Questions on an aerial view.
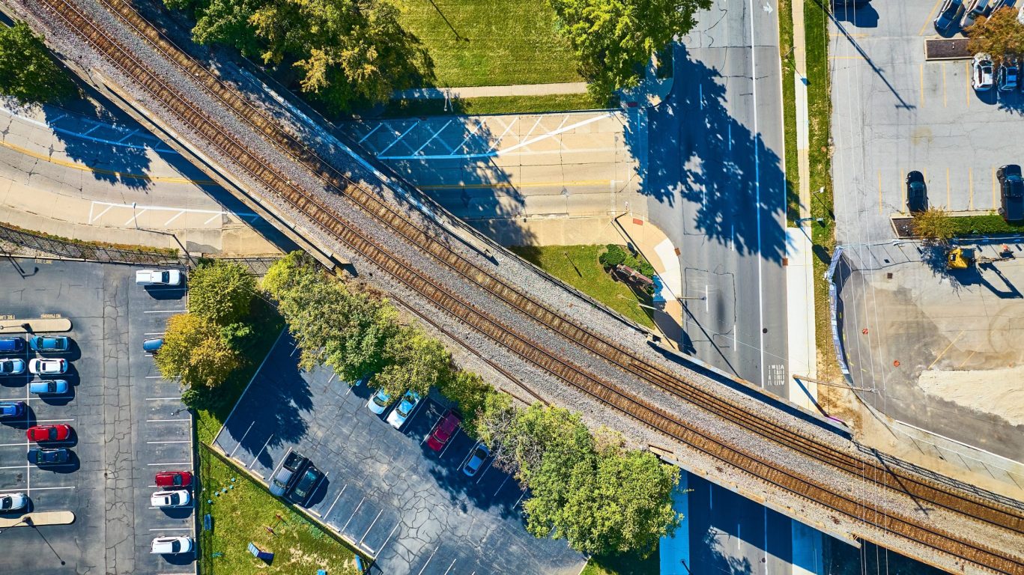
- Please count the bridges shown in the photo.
2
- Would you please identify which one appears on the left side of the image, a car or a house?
car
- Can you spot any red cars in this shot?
Yes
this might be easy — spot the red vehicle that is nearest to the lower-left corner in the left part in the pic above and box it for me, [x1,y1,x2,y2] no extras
[29,424,71,442]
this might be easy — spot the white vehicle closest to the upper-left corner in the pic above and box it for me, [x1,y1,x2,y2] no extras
[135,268,184,287]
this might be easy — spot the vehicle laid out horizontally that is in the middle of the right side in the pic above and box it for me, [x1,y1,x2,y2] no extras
[947,248,1012,269]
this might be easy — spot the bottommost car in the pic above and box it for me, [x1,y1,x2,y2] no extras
[151,535,193,556]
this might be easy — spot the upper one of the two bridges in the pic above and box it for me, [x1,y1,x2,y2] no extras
[94,47,517,271]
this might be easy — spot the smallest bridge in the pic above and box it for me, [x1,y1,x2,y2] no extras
[645,333,862,547]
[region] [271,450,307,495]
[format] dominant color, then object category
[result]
blue truck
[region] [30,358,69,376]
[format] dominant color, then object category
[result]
white car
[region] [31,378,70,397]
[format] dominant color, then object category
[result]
blue car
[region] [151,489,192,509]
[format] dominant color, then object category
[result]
white car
